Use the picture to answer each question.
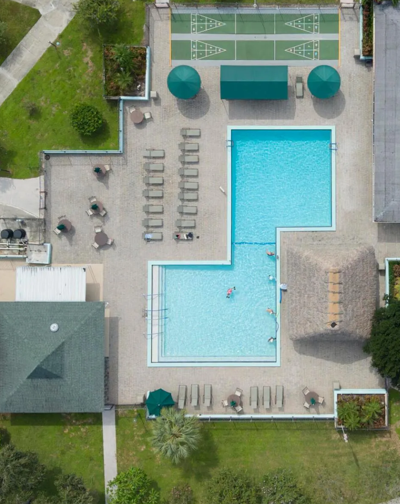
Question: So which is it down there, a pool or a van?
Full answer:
Of the two, only a pool appears.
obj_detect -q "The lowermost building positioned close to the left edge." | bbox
[0,267,107,413]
